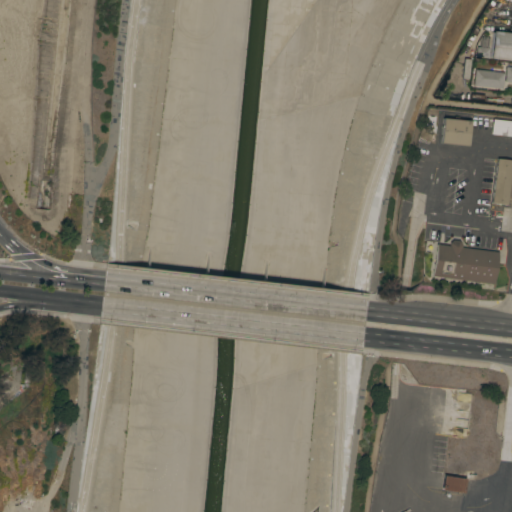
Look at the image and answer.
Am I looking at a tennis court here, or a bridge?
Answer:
bridge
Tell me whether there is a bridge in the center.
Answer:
Yes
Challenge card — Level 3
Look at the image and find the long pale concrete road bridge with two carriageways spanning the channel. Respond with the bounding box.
[100,257,370,355]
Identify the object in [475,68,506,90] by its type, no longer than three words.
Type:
house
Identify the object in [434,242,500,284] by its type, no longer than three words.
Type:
building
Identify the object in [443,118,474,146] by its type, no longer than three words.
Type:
building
